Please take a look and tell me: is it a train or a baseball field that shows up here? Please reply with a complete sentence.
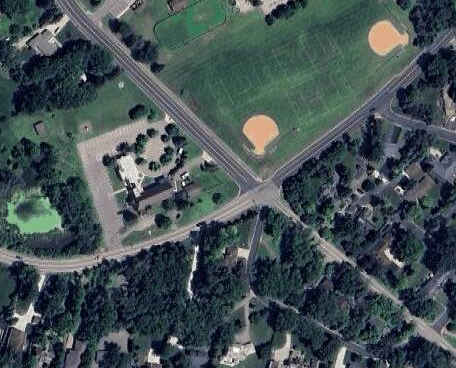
I can see a baseball field in this picture.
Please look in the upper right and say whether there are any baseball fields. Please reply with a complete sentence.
Yes, you'll find a baseball field in the upper right.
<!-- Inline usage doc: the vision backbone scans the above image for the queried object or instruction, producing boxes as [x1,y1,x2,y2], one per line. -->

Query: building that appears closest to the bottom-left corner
[7,324,24,353]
